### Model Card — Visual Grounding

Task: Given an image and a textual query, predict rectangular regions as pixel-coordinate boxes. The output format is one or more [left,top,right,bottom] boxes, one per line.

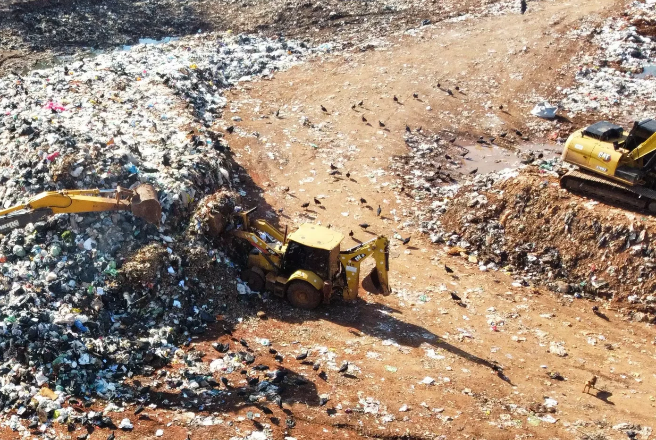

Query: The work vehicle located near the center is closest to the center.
[215,203,398,320]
